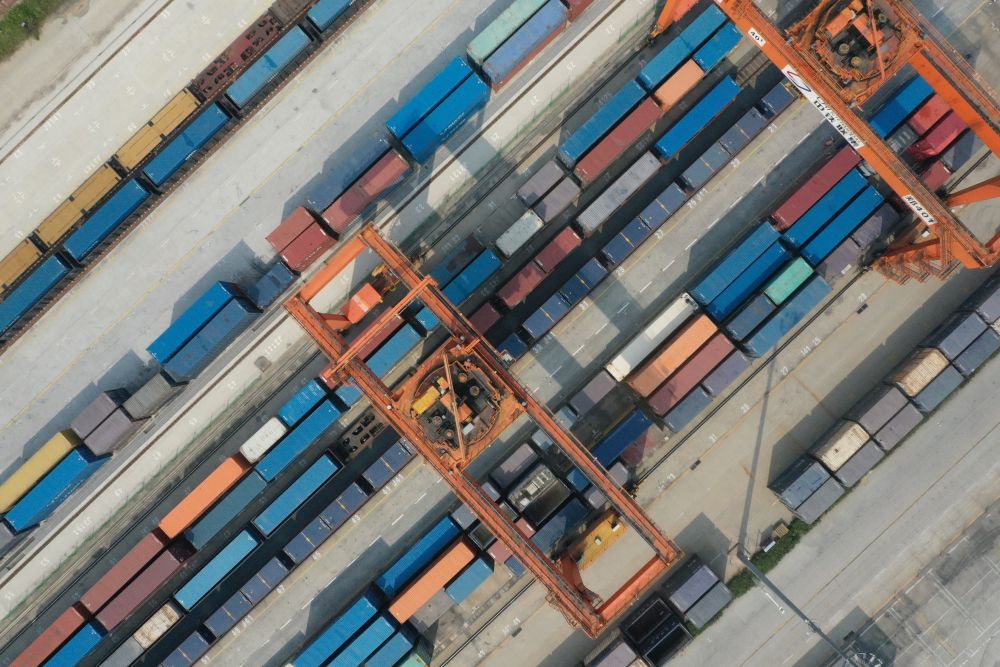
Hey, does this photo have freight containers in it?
Yes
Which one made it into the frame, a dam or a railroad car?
railroad car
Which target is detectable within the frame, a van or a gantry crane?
gantry crane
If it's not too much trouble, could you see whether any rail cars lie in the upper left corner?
Yes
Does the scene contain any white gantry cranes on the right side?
No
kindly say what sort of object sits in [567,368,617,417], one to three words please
shipping container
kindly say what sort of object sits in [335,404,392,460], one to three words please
rail car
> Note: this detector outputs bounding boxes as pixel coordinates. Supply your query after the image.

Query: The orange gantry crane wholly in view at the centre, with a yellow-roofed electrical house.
[277,213,692,656]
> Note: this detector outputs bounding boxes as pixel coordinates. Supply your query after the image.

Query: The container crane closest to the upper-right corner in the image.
[636,0,1000,304]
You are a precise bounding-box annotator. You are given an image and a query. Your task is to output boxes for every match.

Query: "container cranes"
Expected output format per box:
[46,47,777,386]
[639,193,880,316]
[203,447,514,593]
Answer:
[636,0,1000,304]
[277,213,692,656]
